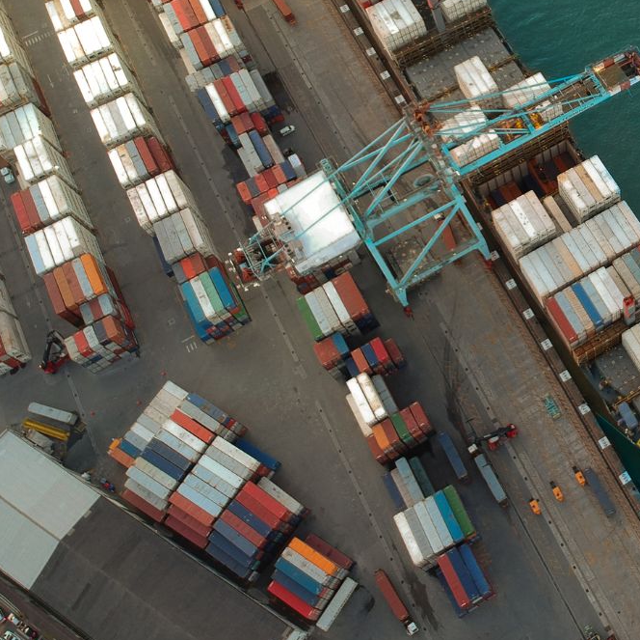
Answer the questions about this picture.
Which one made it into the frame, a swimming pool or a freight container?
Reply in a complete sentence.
There is a freight container in the scene.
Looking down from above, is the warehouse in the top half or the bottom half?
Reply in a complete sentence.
The bottom half of the photo is where the warehouse is.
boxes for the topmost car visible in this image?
[280,126,294,139]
